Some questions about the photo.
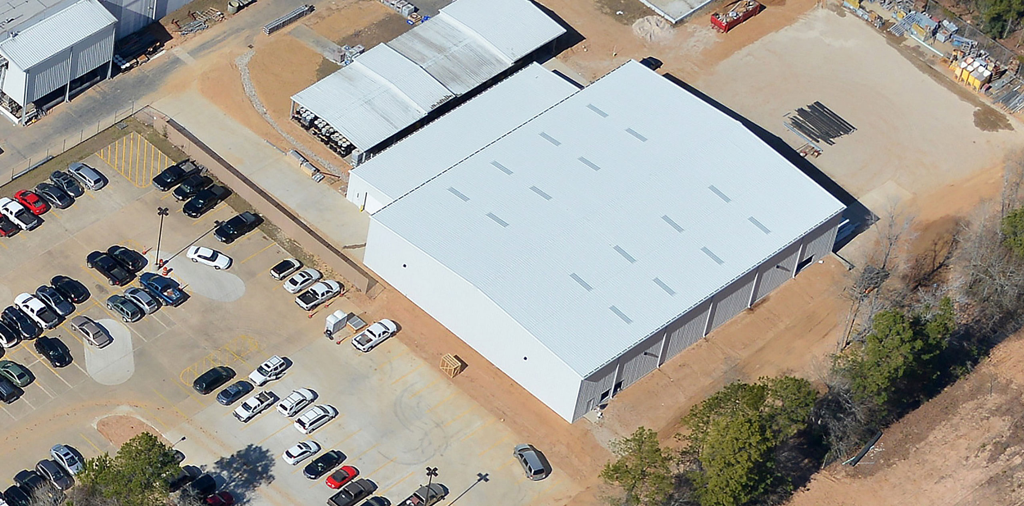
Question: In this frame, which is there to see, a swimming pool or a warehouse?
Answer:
warehouse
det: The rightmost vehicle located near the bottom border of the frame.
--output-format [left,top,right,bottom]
[516,445,548,483]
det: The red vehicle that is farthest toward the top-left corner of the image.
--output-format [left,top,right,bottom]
[12,190,50,219]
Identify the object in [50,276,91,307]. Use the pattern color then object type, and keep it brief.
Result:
black car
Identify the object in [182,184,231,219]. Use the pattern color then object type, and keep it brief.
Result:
black truck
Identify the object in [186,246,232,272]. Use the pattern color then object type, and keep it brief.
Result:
white car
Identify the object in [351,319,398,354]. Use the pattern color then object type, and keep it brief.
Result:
white truck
